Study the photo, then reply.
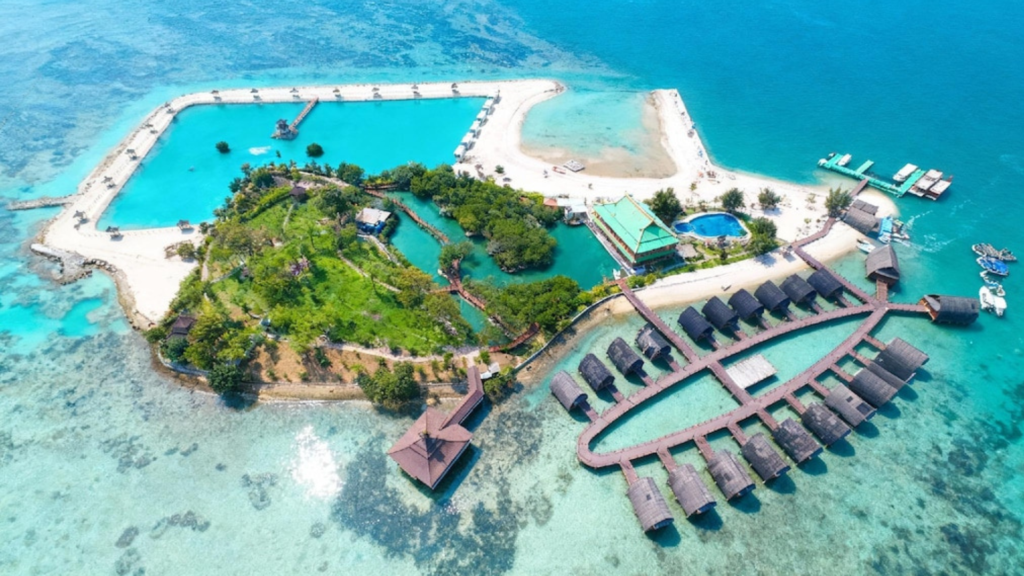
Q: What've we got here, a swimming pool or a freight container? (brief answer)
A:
swimming pool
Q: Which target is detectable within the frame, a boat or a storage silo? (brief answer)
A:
boat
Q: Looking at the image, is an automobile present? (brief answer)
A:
No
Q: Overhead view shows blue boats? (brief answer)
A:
Yes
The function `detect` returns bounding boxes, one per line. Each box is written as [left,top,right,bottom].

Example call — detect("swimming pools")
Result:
[673,221,695,234]
[688,211,751,239]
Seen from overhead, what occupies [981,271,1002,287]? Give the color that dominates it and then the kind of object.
blue boat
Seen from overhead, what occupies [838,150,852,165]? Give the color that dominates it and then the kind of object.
white boat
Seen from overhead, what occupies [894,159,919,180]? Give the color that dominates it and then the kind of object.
white boat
